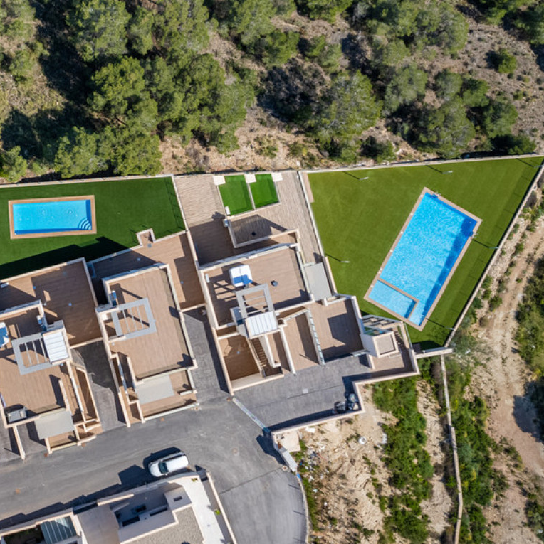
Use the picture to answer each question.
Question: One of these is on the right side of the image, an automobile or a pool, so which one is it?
pool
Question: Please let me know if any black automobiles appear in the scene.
No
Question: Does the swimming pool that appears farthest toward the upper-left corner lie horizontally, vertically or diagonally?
horizontally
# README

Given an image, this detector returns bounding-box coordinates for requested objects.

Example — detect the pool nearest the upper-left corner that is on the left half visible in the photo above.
[9,196,97,239]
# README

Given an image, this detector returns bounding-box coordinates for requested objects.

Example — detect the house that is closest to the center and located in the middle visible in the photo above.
[191,244,331,374]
